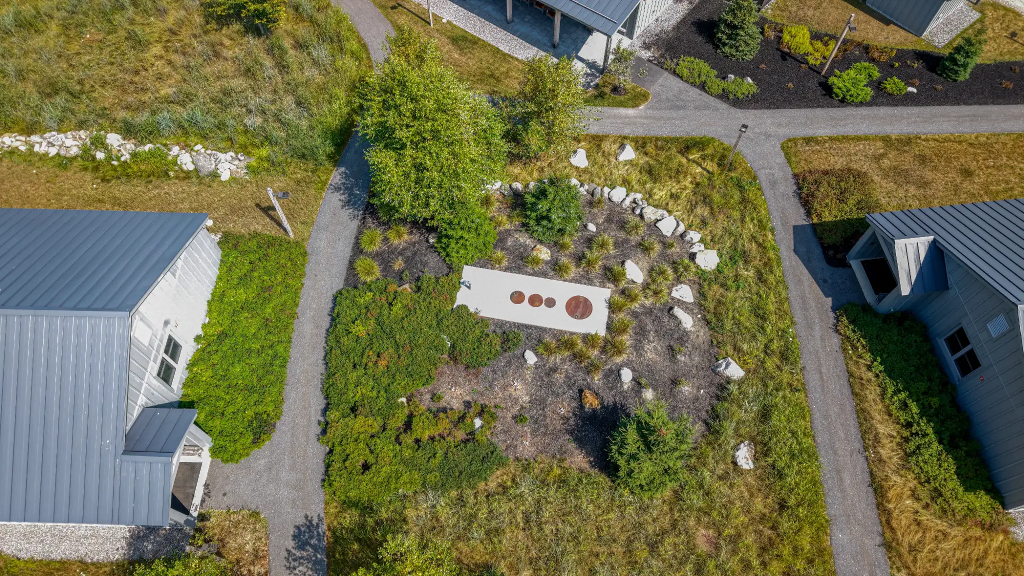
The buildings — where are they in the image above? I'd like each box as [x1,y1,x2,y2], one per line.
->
[852,197,1024,518]
[533,0,672,73]
[866,0,974,37]
[0,209,219,530]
